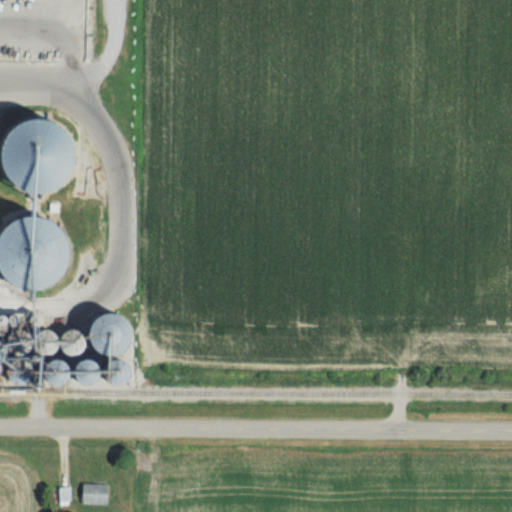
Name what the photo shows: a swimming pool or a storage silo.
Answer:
storage silo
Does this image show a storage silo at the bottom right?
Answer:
No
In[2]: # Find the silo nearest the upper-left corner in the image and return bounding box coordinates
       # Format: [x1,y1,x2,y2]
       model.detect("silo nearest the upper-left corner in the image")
[1,115,78,201]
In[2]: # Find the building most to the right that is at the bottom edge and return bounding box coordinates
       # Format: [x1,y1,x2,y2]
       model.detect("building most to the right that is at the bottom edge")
[83,484,108,505]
